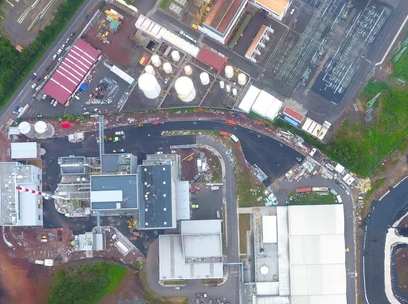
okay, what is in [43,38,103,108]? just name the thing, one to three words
building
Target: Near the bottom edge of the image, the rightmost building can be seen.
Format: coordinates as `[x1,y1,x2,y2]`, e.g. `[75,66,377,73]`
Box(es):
[288,205,347,304]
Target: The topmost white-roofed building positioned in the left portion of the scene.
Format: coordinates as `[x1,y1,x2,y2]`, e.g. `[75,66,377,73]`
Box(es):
[135,15,163,42]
